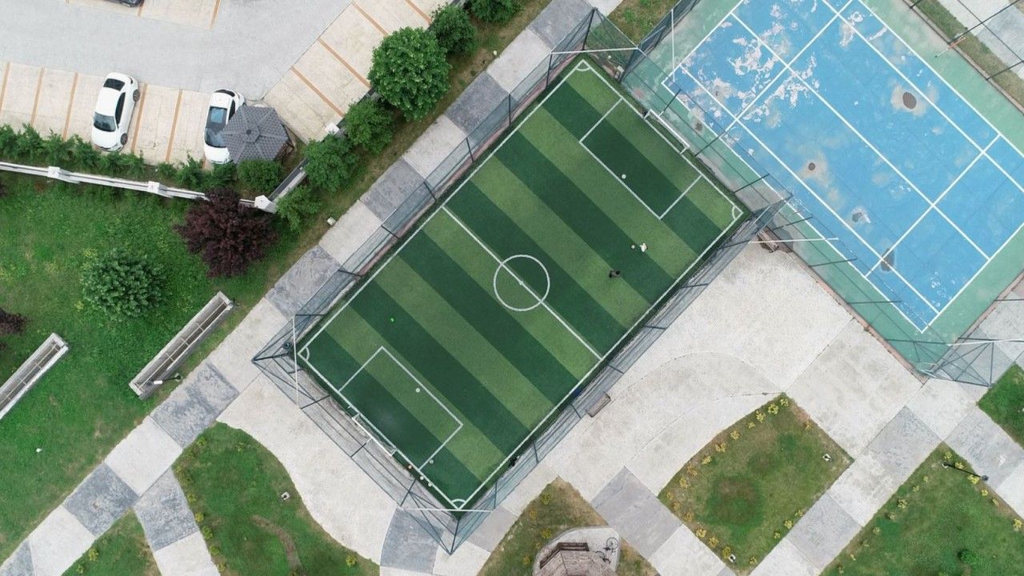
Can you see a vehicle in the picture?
Yes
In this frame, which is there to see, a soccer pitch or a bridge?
soccer pitch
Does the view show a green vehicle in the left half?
No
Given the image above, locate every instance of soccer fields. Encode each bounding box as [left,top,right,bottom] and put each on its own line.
[282,45,757,524]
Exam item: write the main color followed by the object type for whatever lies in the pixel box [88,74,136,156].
white car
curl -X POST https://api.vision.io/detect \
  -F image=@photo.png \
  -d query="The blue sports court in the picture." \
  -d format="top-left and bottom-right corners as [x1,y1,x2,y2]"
[621,0,1024,379]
